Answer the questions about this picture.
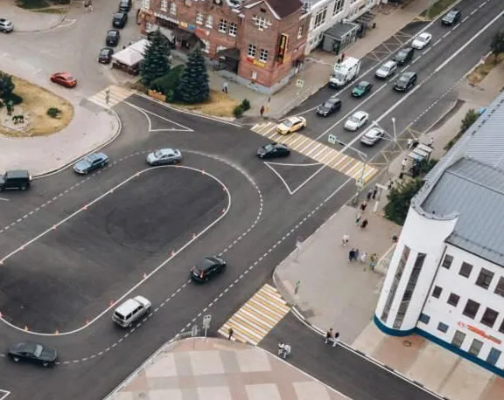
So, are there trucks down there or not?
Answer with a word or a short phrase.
Yes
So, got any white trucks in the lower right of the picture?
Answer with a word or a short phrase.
No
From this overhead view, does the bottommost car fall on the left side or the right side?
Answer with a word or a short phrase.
left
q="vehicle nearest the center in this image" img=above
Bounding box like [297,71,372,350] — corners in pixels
[254,142,293,160]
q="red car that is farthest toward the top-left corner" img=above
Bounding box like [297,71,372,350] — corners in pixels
[48,74,80,88]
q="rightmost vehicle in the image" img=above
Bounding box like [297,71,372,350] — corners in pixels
[440,7,461,25]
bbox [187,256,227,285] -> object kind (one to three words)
car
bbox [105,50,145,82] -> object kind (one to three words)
tent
